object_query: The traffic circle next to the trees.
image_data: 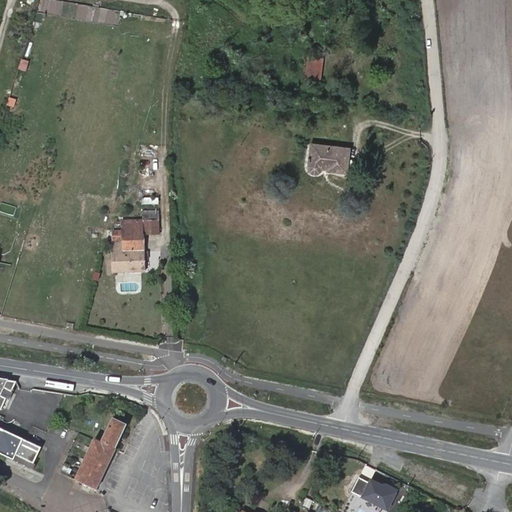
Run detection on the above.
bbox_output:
[120,362,270,452]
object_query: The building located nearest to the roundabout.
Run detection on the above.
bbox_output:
[100,418,126,449]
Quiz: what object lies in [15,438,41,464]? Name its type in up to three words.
building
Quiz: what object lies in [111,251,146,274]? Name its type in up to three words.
house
